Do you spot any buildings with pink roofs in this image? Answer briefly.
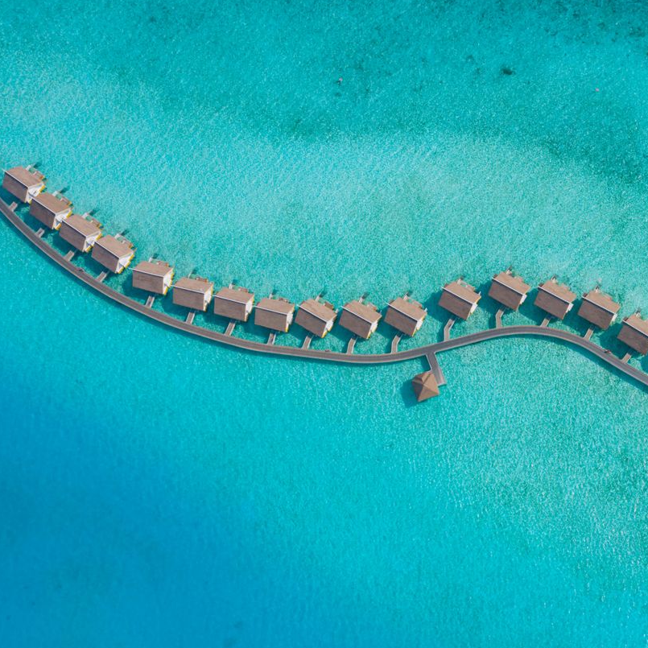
No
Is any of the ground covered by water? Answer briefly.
Yes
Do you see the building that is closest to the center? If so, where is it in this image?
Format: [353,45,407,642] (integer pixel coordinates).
[295,294,339,339]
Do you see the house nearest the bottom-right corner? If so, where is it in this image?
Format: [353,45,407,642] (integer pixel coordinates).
[616,309,648,356]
